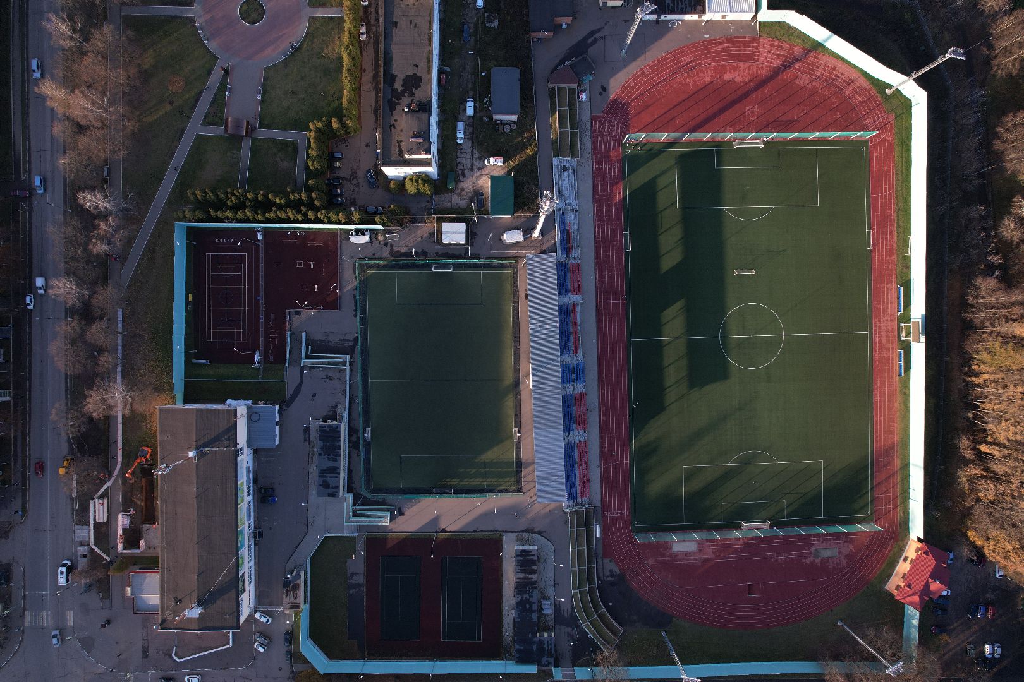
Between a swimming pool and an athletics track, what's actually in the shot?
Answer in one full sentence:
The image shows an athletics track.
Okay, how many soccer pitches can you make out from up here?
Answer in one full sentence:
The picture shows 2 soccer pitches.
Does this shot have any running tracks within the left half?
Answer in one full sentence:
No, I see no running track within the left half.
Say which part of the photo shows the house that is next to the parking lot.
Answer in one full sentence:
The house that is next to the parking lot appears toward the bottom right of the photo.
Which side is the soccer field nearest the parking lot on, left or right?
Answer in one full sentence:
The soccer field nearest the parking lot appears in the right half of the scene.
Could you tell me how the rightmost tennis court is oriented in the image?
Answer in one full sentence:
The rightmost tennis court has been laid out from top to bottom relative to the frame.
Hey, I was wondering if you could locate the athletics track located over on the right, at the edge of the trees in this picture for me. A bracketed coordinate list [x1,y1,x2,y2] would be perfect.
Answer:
[593,35,899,629]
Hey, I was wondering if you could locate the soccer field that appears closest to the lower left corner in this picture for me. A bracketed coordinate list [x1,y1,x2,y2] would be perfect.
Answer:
[357,261,522,496]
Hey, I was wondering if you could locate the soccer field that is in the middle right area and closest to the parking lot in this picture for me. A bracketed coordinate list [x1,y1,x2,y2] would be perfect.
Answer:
[623,138,875,534]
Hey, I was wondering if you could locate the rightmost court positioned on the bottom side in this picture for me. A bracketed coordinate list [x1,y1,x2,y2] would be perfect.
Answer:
[442,556,482,642]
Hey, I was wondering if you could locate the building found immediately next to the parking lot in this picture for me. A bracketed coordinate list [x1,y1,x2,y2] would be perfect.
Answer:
[884,539,950,611]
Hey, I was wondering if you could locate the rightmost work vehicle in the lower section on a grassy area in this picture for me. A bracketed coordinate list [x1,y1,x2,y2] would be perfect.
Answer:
[126,447,151,480]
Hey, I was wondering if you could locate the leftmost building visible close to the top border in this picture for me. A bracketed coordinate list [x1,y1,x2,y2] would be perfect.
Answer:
[374,0,441,176]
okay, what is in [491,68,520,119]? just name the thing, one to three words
shed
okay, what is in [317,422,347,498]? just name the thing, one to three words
building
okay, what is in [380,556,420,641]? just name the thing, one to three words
tennis court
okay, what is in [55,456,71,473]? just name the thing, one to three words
work vehicle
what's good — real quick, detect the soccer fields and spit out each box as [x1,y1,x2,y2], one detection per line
[623,138,875,534]
[357,261,522,496]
